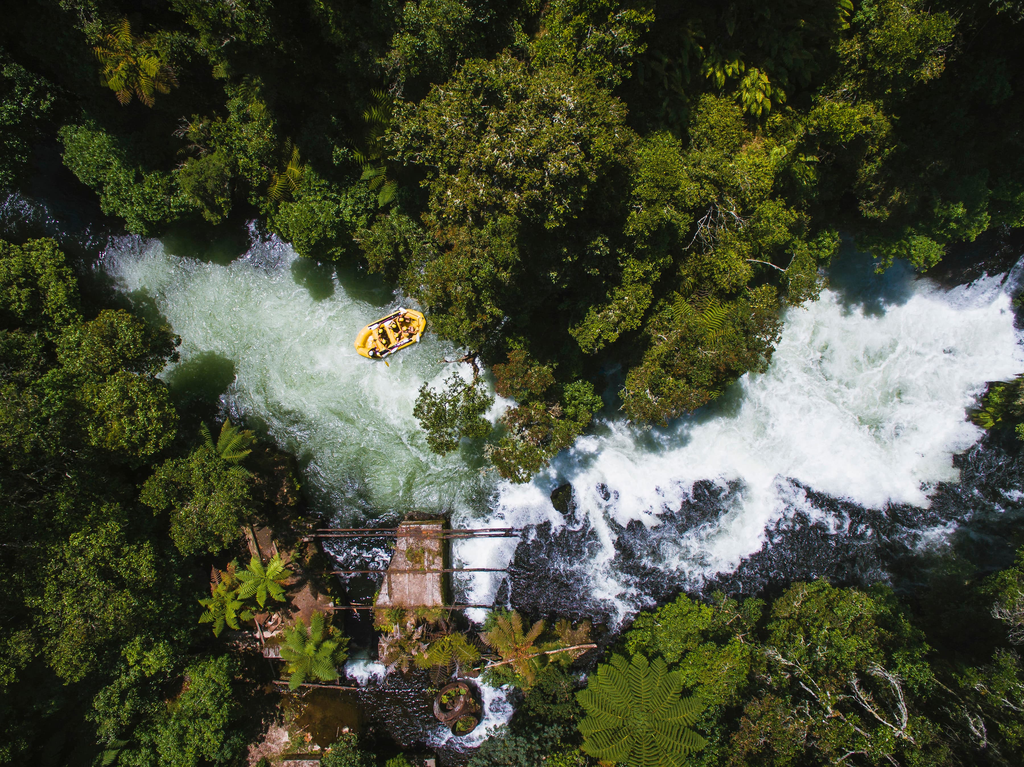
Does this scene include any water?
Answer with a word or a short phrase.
Yes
